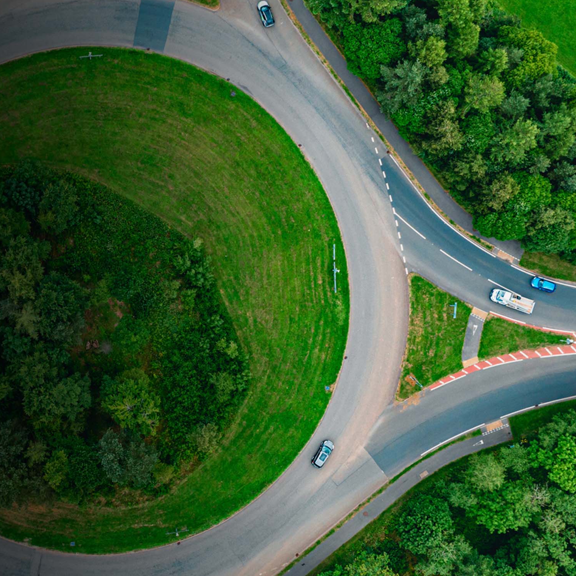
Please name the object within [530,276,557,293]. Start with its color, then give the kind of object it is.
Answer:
blue car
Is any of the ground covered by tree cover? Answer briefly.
Yes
